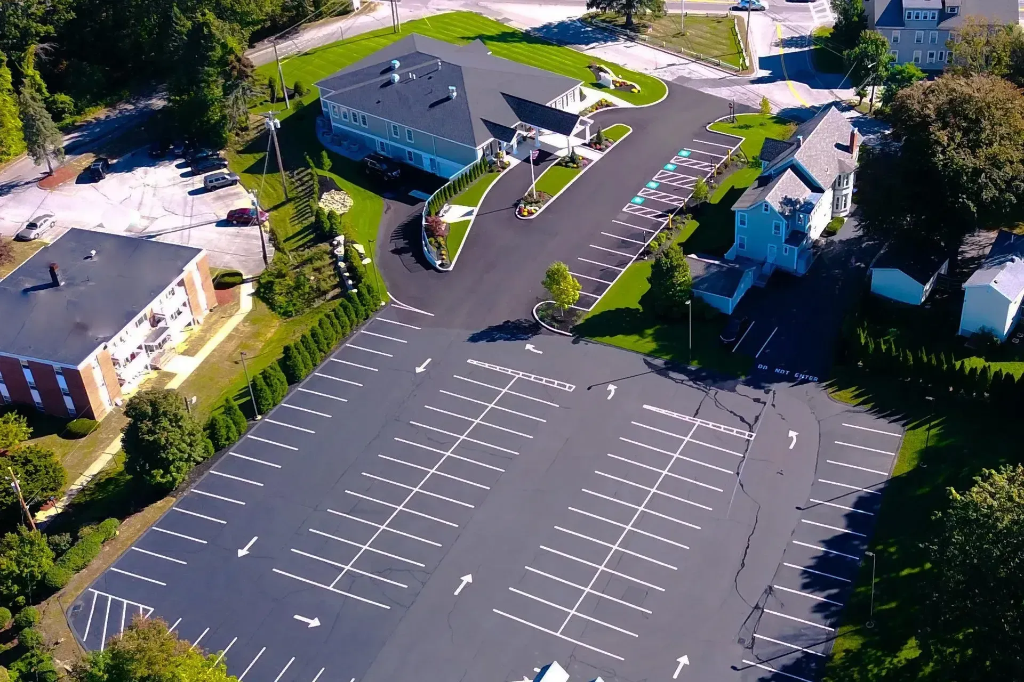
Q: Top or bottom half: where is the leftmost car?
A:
top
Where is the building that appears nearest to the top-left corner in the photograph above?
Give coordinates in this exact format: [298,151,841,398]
[0,228,217,421]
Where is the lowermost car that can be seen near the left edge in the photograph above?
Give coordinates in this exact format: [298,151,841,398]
[17,213,54,236]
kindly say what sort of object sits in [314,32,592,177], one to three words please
building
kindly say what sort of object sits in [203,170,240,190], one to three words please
car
